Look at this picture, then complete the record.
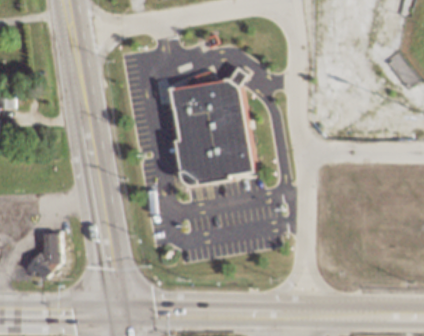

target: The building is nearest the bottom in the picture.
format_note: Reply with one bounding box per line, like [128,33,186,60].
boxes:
[29,232,64,277]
